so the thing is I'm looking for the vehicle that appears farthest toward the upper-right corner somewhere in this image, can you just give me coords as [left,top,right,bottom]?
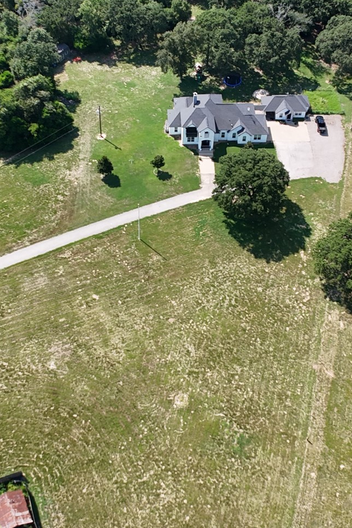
[316,118,328,134]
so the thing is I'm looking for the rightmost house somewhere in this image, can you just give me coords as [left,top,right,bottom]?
[261,94,312,122]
